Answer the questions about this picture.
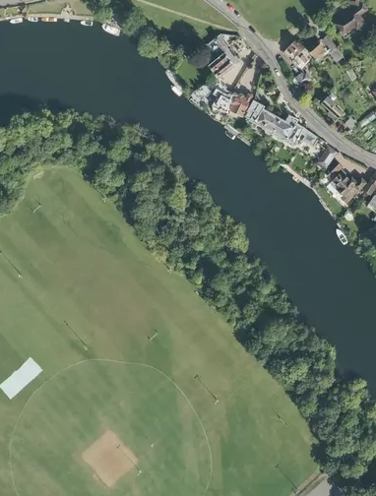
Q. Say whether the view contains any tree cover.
Yes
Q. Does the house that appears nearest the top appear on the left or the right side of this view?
right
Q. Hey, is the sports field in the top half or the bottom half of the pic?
bottom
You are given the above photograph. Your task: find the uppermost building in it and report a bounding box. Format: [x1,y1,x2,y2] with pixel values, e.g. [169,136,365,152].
[336,2,373,38]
